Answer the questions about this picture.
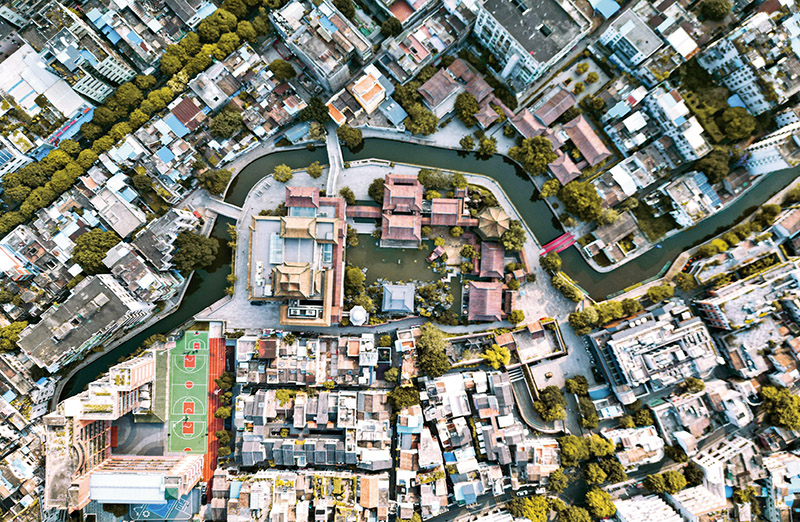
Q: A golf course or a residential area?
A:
residential area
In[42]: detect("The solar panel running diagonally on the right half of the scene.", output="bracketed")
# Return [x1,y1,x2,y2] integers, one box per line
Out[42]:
[694,173,722,206]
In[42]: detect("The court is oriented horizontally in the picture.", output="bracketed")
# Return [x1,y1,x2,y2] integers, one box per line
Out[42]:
[112,500,194,522]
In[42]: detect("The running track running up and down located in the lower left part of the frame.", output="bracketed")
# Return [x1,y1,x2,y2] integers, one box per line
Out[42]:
[209,322,225,496]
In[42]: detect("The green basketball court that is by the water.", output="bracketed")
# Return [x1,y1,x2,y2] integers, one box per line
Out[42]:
[168,331,209,457]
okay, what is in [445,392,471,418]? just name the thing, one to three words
house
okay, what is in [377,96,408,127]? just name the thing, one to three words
house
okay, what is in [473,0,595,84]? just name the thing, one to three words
building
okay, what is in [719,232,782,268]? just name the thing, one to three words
shed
